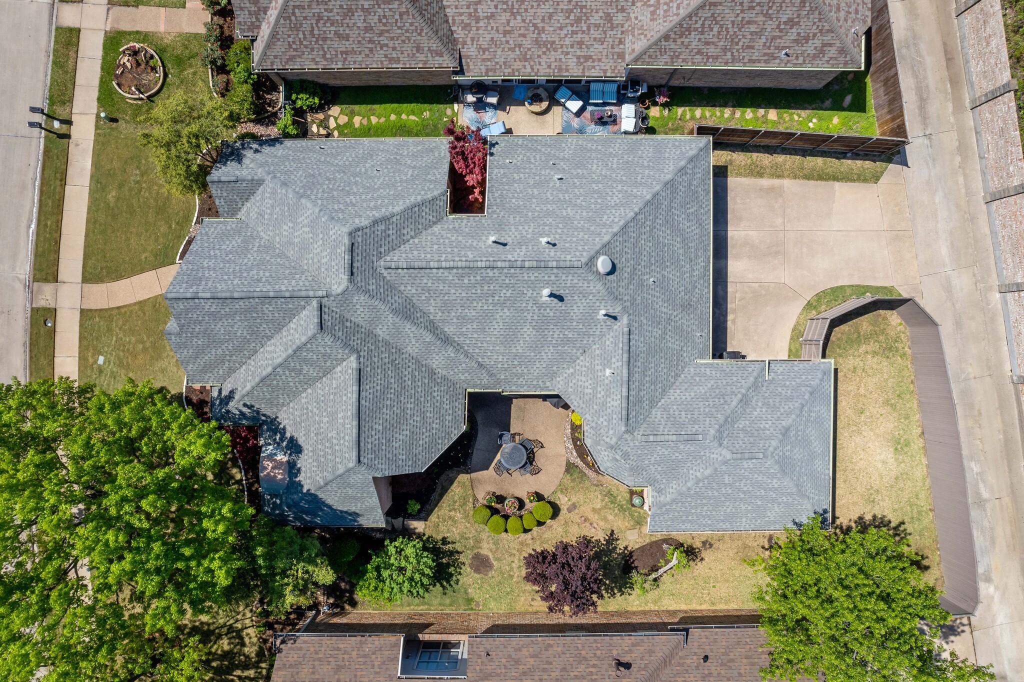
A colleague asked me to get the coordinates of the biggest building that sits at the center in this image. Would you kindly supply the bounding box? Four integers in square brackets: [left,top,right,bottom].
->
[163,133,835,534]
